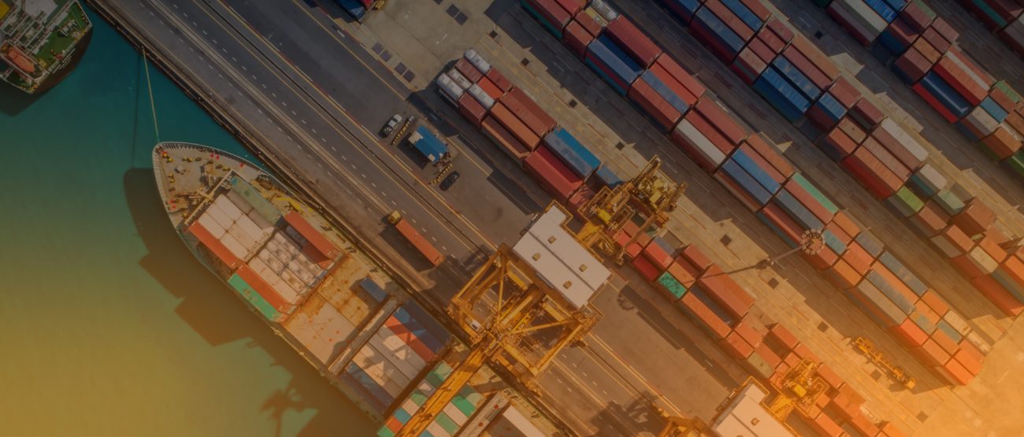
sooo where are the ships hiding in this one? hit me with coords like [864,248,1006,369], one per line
[0,0,95,93]
[156,143,567,437]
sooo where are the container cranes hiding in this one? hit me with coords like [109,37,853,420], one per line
[393,183,635,437]
[651,357,830,437]
[605,152,691,271]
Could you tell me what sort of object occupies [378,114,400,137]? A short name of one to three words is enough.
truck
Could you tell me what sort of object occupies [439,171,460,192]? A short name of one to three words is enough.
car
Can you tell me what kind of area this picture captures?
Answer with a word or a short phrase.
port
